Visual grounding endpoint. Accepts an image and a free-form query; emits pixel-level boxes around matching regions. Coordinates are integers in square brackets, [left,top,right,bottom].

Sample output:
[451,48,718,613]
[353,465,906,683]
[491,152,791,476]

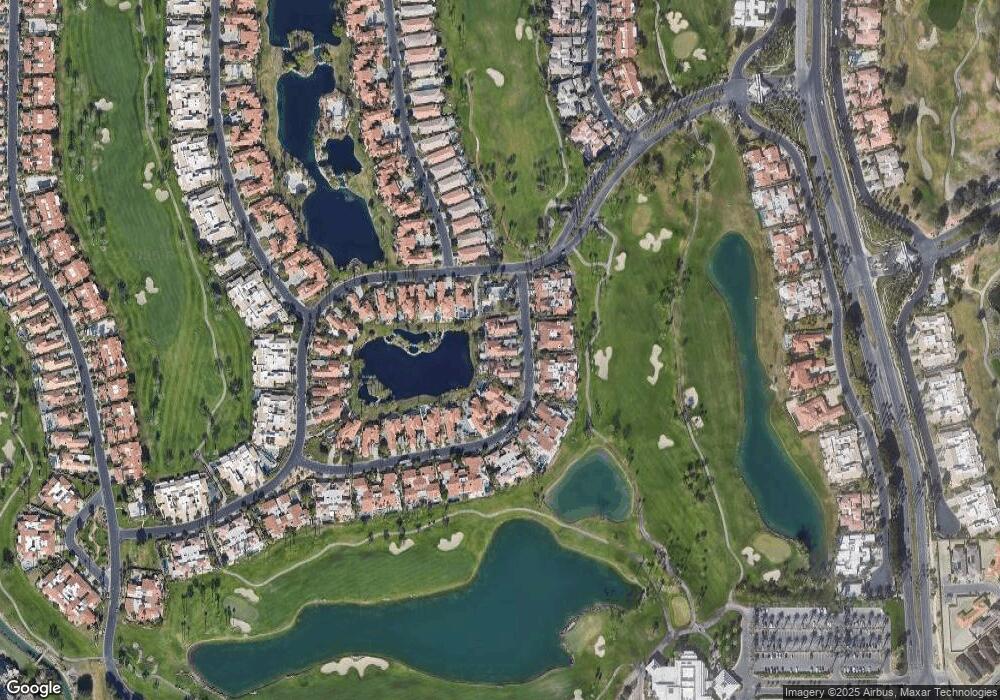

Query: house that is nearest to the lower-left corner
[39,562,100,626]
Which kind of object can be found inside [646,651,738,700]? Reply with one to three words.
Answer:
building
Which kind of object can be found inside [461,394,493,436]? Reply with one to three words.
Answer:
house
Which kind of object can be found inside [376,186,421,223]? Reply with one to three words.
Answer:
house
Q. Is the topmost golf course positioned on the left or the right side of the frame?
right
